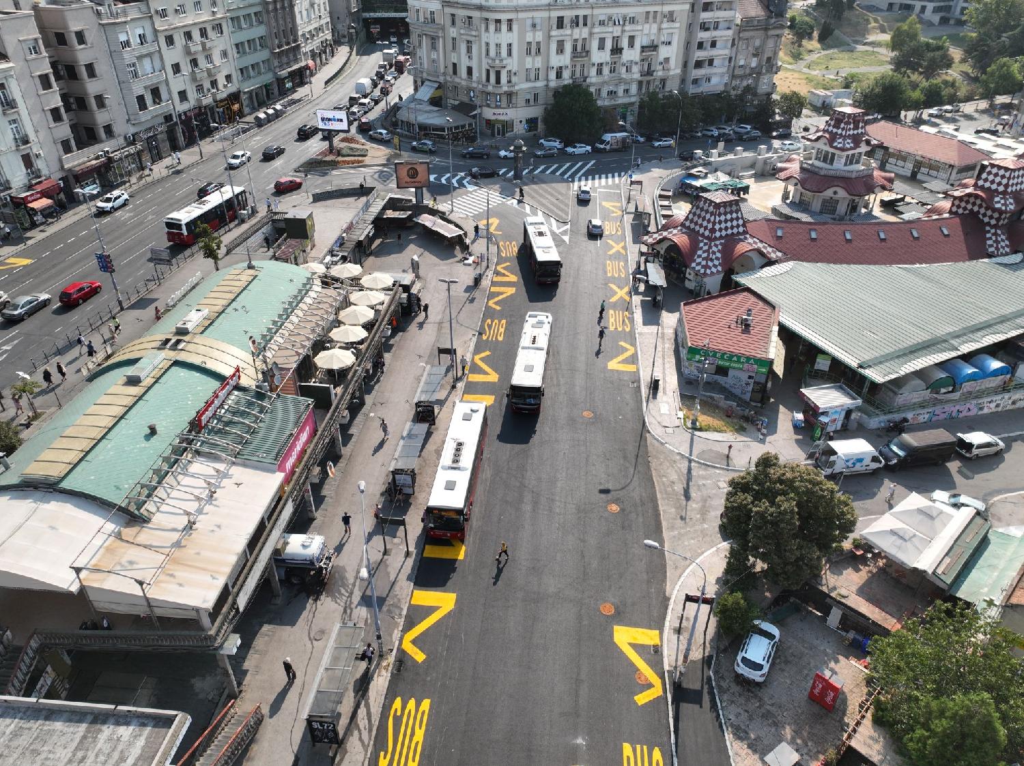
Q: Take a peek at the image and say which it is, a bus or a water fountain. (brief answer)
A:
bus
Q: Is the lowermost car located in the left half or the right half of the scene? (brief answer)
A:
right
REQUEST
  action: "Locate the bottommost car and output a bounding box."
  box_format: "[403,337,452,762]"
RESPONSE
[741,621,781,695]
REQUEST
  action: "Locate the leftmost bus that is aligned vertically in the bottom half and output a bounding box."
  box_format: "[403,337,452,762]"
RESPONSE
[424,400,487,536]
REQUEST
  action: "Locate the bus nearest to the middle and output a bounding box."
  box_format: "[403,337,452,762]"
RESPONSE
[509,307,551,409]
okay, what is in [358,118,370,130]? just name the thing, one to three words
vehicle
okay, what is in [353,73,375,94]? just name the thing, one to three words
truck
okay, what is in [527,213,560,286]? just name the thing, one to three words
bus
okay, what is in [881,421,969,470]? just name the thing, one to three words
van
